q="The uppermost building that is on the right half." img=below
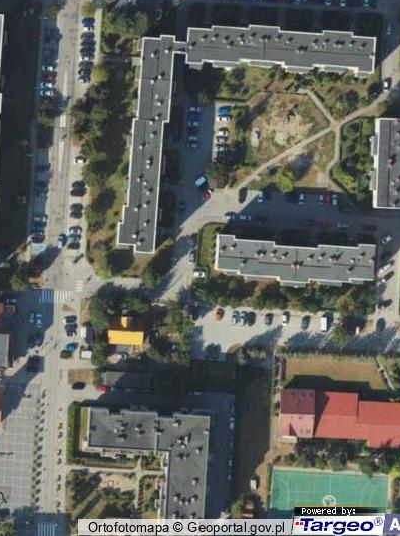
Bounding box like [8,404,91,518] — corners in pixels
[185,25,375,79]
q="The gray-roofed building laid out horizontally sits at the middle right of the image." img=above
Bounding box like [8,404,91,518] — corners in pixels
[212,235,375,286]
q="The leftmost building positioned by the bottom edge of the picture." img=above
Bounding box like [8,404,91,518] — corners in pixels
[83,406,210,536]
